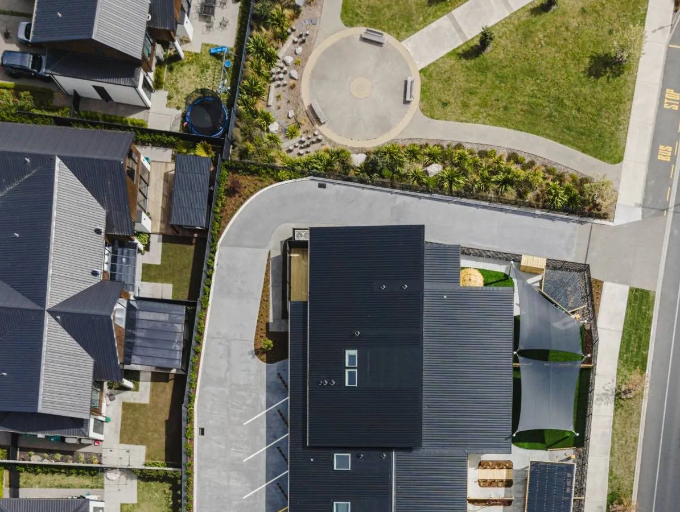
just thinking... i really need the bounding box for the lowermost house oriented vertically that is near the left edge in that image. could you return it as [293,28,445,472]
[0,123,149,438]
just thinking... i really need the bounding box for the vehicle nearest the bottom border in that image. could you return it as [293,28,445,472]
[0,53,58,89]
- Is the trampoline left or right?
left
